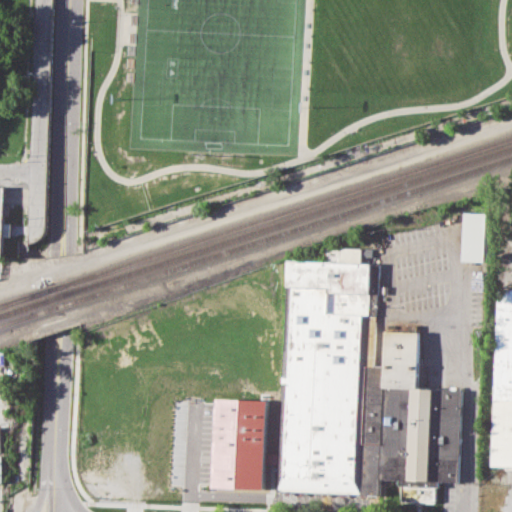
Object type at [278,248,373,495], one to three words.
building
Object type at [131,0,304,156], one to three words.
soccer field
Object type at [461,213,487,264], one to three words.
shed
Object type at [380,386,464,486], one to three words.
building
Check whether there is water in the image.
No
